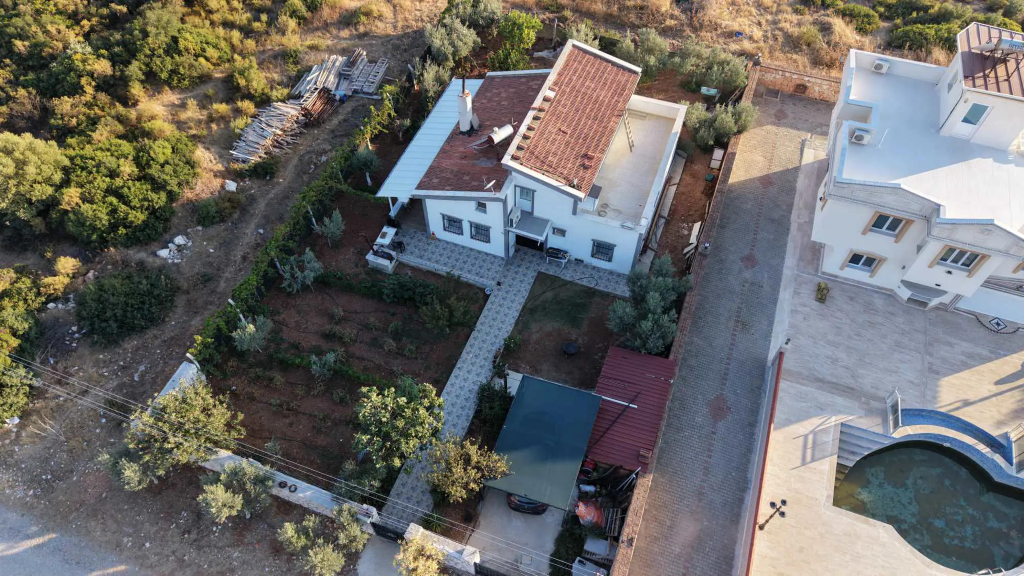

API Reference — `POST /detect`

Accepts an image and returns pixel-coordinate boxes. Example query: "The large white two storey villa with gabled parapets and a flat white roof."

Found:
[808,23,1024,322]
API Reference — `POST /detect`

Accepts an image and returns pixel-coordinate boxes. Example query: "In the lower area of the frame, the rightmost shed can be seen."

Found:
[584,347,676,481]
